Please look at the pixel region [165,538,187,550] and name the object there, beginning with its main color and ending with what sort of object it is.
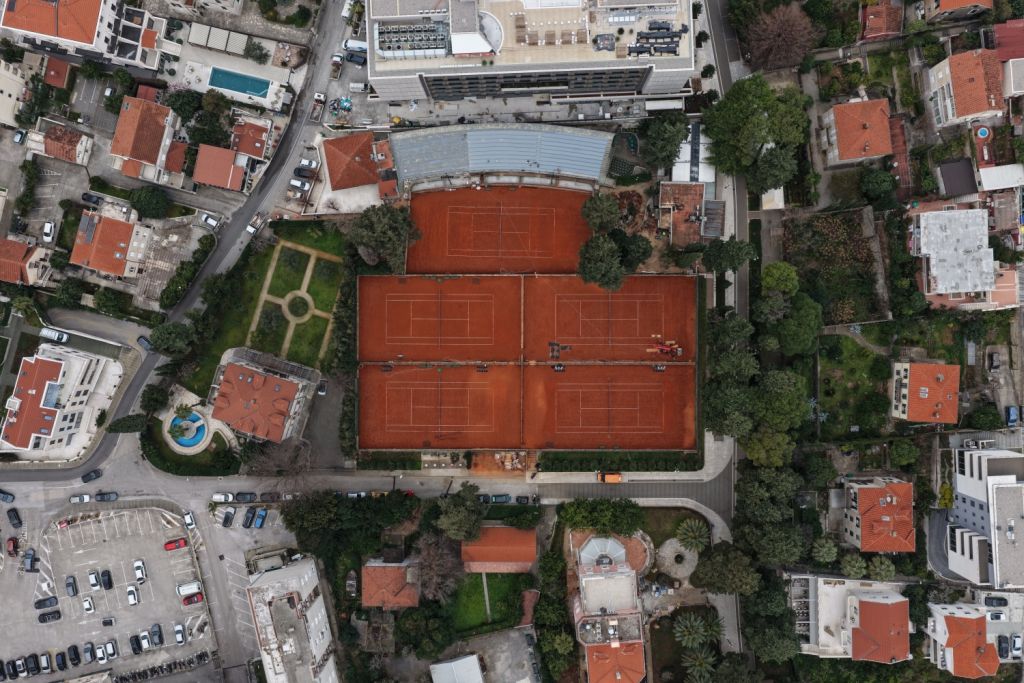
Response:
red vehicle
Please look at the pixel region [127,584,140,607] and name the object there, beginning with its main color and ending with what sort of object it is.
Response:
white vehicle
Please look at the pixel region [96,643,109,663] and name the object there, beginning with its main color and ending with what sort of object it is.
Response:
white vehicle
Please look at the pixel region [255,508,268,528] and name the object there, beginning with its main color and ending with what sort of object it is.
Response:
blue vehicle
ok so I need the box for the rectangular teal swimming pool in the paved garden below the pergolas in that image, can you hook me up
[207,65,272,100]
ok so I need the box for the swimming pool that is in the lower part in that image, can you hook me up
[167,410,208,451]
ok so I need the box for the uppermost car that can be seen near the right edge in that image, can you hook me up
[988,352,1000,371]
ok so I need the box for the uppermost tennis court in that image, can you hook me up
[406,186,593,272]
